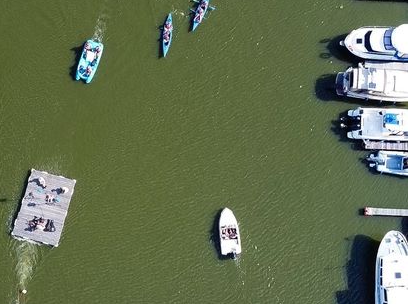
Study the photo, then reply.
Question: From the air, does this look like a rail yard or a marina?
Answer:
marina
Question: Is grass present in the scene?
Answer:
No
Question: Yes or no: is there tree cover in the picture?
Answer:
No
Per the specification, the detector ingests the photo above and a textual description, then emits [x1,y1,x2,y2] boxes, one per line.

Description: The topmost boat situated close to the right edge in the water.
[338,24,408,64]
